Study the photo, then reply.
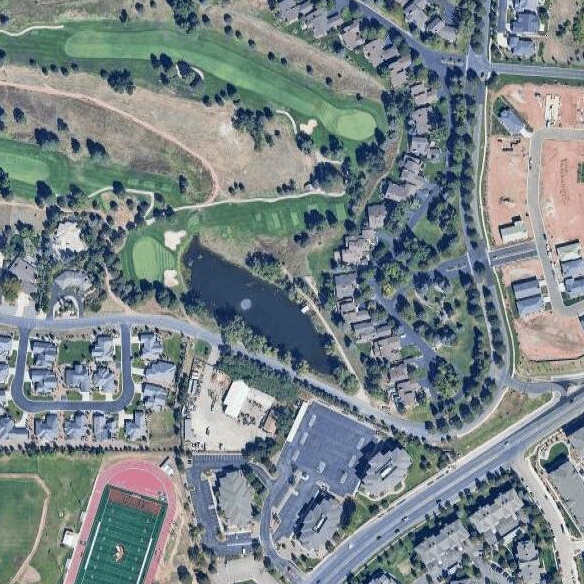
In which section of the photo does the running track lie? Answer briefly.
bottom left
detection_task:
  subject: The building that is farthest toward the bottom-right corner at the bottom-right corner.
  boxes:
[518,555,542,584]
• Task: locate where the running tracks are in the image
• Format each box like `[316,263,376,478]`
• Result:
[66,463,176,584]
